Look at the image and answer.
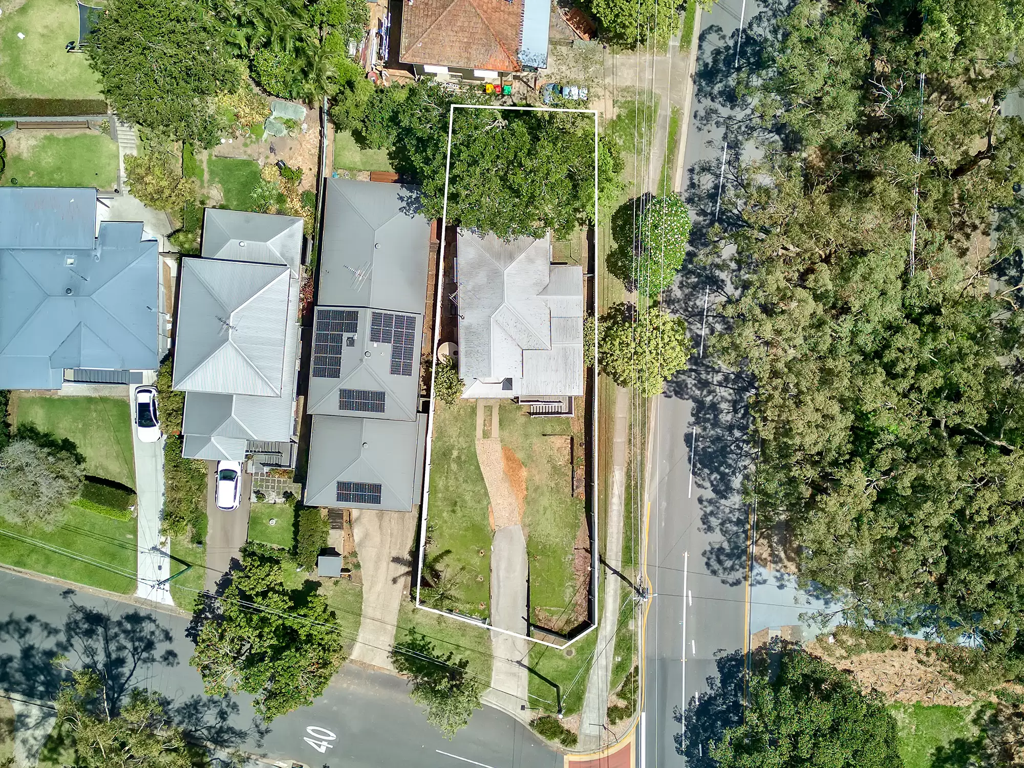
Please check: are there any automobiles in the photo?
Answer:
Yes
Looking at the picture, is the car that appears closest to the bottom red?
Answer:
No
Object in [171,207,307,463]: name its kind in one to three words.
house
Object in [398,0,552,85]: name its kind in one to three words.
house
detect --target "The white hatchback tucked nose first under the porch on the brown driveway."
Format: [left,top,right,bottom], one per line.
[212,461,245,512]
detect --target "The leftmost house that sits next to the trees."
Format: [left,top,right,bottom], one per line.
[0,186,170,392]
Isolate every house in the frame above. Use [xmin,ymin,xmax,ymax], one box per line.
[398,0,552,85]
[171,207,307,463]
[302,176,435,513]
[0,186,170,392]
[455,226,585,401]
